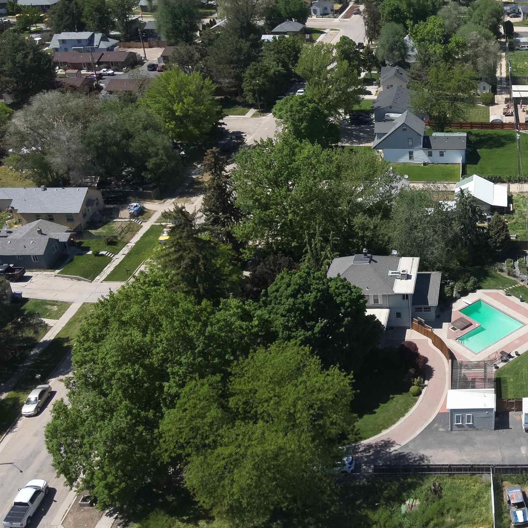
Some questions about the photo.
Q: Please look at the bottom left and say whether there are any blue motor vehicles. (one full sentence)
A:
No, I see no blue motor vehicle at the bottom left.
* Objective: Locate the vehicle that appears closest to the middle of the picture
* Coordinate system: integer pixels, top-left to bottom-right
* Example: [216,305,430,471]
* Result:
[157,222,175,242]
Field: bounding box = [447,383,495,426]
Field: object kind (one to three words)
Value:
shed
